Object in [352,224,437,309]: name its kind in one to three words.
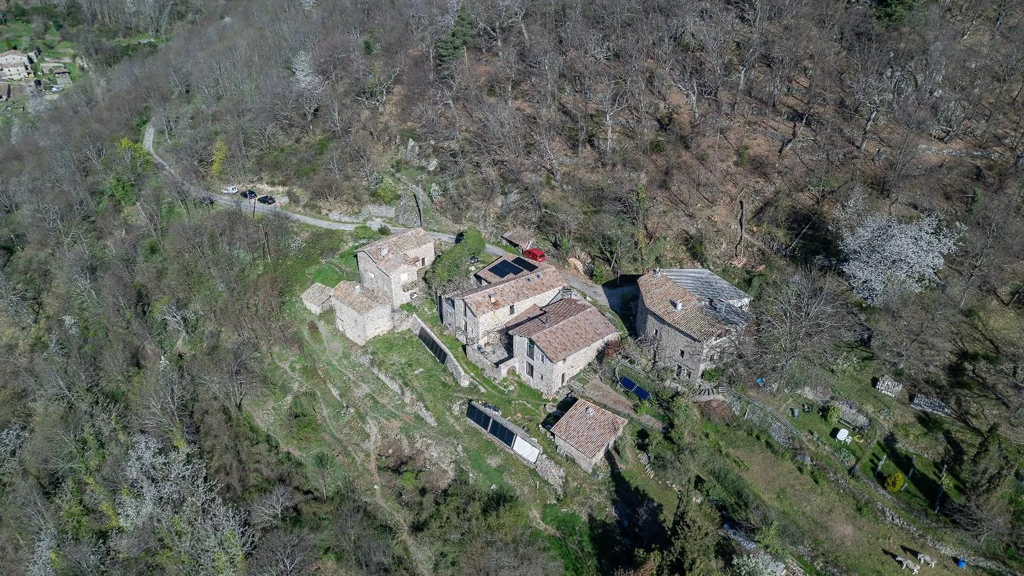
house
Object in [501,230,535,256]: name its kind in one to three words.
shed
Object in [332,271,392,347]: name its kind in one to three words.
house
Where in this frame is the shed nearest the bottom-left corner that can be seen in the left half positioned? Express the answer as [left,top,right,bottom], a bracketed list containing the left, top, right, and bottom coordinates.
[298,280,334,318]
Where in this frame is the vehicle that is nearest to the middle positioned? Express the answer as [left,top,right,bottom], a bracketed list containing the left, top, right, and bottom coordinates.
[523,247,548,261]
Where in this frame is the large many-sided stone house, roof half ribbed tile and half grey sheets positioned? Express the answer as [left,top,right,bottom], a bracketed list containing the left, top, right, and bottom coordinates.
[634,261,757,380]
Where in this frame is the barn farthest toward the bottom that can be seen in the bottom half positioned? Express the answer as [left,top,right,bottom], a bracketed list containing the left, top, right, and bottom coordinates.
[551,393,630,479]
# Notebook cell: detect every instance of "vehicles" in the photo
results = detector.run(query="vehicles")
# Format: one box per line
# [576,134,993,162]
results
[238,190,258,199]
[257,195,277,204]
[523,247,548,261]
[197,196,216,206]
[219,183,239,194]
